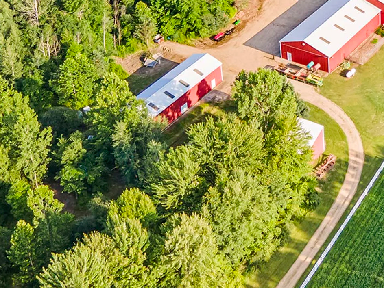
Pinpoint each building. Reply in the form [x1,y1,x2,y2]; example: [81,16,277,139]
[132,52,223,134]
[279,0,382,73]
[270,115,326,161]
